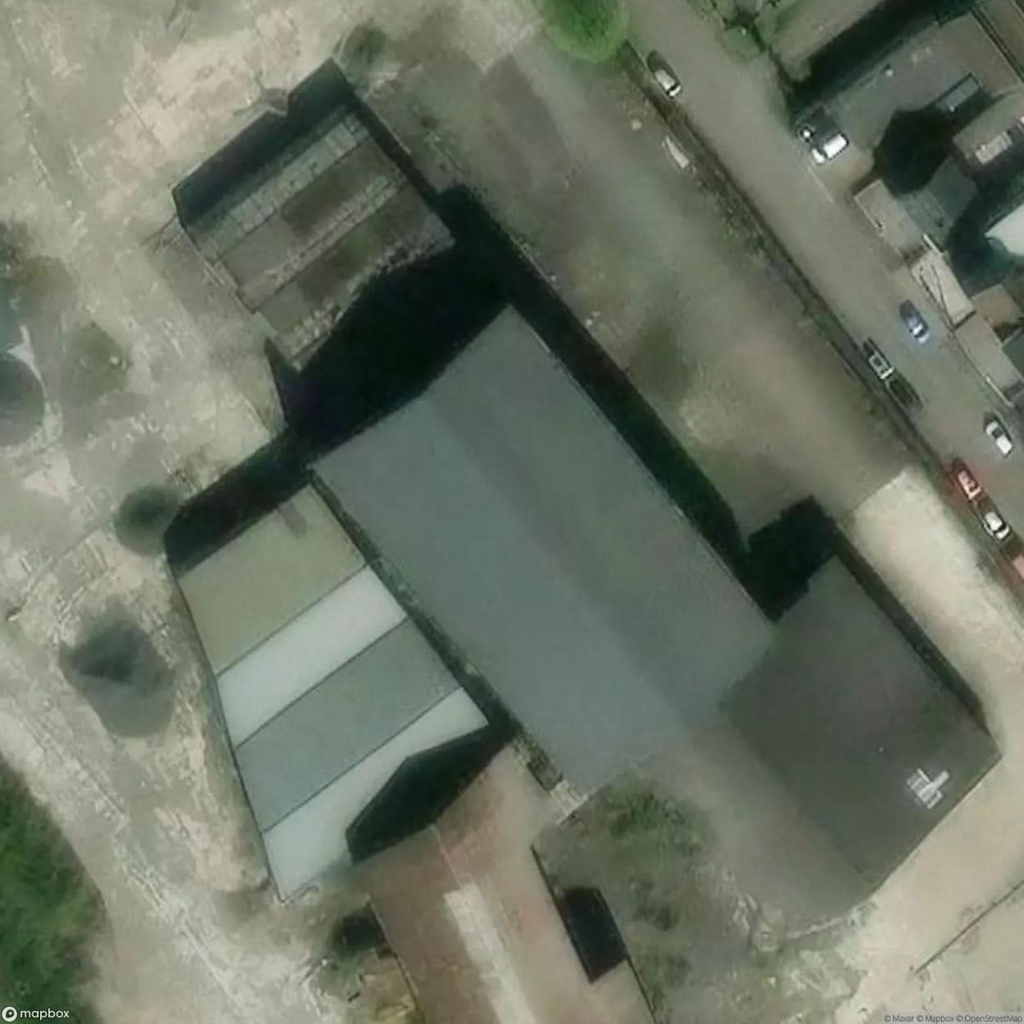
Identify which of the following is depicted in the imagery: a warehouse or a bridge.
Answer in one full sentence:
There is a warehouse in the scene.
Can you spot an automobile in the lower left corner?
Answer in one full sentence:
No, no automobile can be made out in the lower left corner.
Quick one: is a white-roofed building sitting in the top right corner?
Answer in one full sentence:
Yes, a white-roofed building shows up in the top right corner.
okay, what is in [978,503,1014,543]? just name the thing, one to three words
car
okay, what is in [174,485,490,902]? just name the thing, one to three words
shed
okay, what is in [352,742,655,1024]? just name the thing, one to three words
building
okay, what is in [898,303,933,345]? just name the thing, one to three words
car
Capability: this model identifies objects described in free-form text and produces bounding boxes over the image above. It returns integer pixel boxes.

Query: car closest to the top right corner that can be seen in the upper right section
[807,130,851,166]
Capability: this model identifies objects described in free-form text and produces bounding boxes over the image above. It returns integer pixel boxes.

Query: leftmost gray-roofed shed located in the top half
[185,102,456,367]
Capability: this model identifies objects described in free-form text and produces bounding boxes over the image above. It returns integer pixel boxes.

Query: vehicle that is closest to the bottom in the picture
[1002,546,1024,586]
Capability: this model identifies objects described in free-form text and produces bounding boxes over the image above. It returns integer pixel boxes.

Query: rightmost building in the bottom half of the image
[721,557,1000,891]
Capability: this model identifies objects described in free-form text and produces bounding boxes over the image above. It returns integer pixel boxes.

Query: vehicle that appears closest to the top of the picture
[647,57,683,100]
